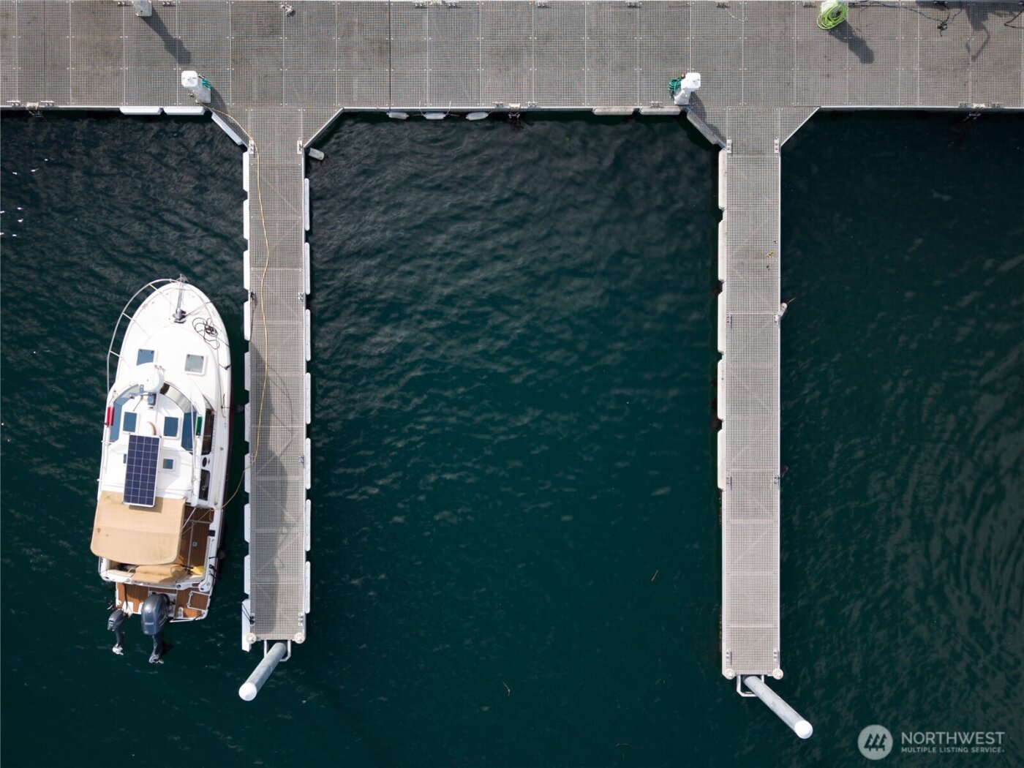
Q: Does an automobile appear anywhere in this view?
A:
No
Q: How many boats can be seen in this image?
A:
1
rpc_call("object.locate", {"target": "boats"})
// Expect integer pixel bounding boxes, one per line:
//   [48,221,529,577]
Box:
[92,274,238,662]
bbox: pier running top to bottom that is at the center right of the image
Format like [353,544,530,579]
[684,107,821,698]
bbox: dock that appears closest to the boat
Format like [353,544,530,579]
[208,107,347,663]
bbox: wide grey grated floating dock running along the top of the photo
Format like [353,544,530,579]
[0,0,1024,125]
